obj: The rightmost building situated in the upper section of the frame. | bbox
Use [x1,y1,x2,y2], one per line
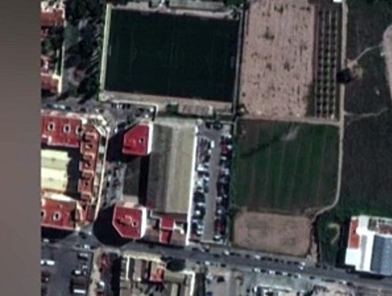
[178,104,213,117]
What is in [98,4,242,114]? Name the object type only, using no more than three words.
soccer field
